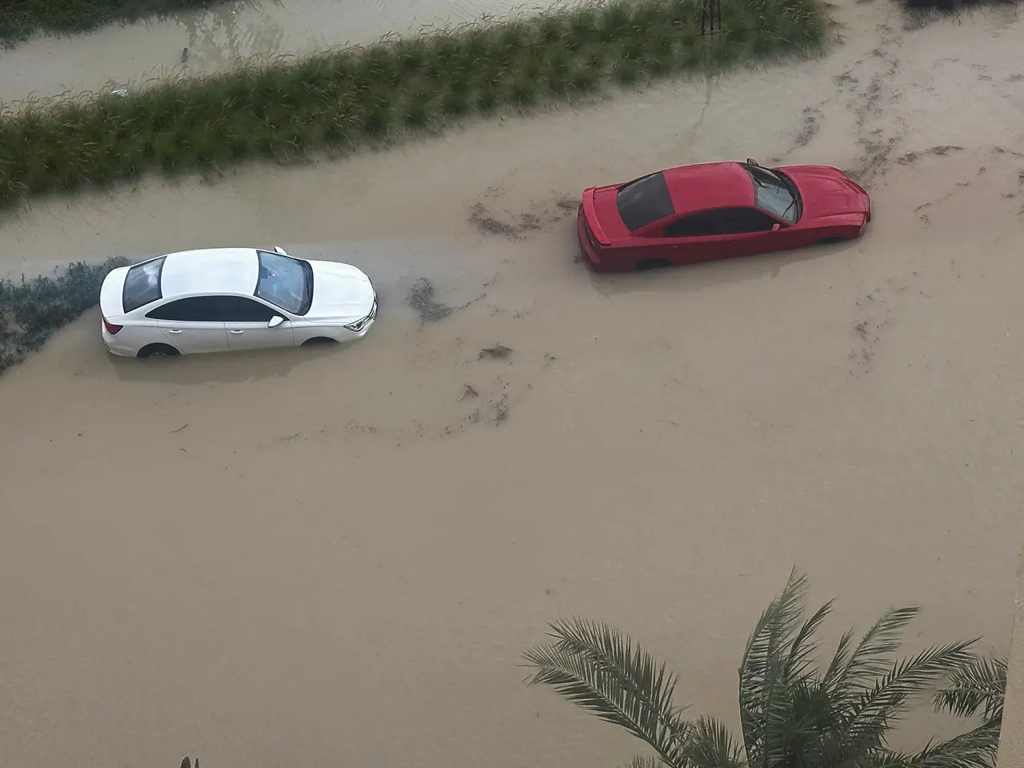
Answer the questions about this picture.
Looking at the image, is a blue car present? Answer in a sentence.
No, there is no blue car in the image.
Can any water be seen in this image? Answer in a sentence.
Yes, water can be seen from above here.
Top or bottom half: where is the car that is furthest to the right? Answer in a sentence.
Seen from above, the car that is furthest to the right lies in the top half of the view.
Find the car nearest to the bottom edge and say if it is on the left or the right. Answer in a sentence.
The car nearest to the bottom edge is on the left side of the image.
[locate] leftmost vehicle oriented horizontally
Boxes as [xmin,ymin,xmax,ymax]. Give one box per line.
[97,245,378,357]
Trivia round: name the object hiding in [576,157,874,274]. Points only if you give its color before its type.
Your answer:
red car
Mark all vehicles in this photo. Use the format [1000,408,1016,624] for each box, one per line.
[97,245,378,357]
[576,157,874,274]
